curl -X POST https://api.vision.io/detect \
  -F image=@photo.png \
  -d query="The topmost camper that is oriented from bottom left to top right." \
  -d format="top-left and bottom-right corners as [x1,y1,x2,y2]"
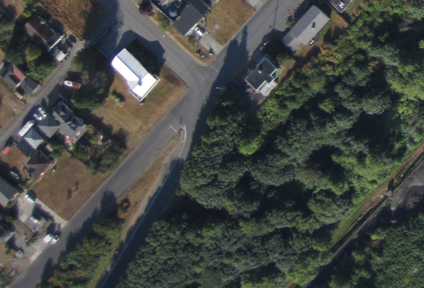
[18,117,39,136]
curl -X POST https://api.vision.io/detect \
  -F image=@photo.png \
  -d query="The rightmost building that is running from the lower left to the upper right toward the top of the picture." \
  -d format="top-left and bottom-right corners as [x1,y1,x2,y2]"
[282,6,330,55]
